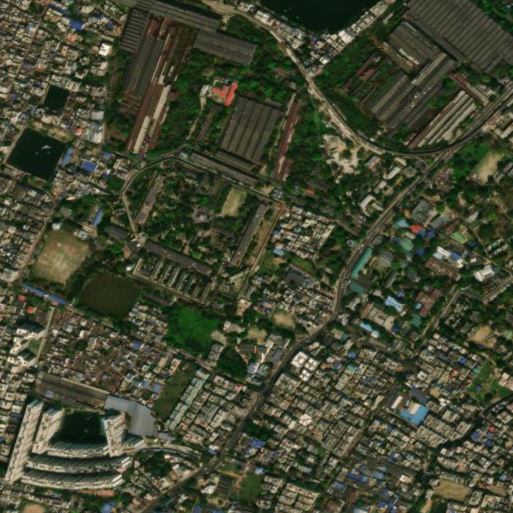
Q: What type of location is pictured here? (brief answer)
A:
residential area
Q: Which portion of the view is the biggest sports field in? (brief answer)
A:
left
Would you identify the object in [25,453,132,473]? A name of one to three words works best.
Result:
building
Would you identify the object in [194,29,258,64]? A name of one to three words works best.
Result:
shed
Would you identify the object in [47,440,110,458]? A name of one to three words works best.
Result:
building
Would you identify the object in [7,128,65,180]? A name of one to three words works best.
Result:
pond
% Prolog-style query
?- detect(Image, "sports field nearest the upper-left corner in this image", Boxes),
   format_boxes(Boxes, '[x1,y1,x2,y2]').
[34,229,90,283]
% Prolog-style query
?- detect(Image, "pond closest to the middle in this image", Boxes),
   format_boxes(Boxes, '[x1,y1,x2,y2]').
[80,272,139,317]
